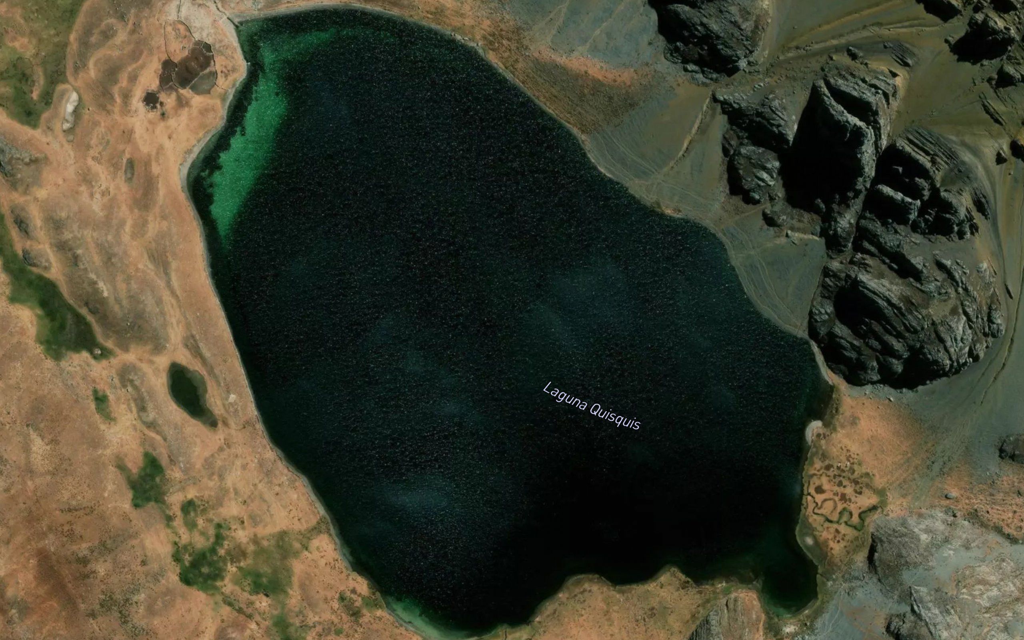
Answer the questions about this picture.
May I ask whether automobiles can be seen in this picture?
No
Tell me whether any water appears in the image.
Yes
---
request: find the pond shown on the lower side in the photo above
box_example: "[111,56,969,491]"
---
[166,361,218,428]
